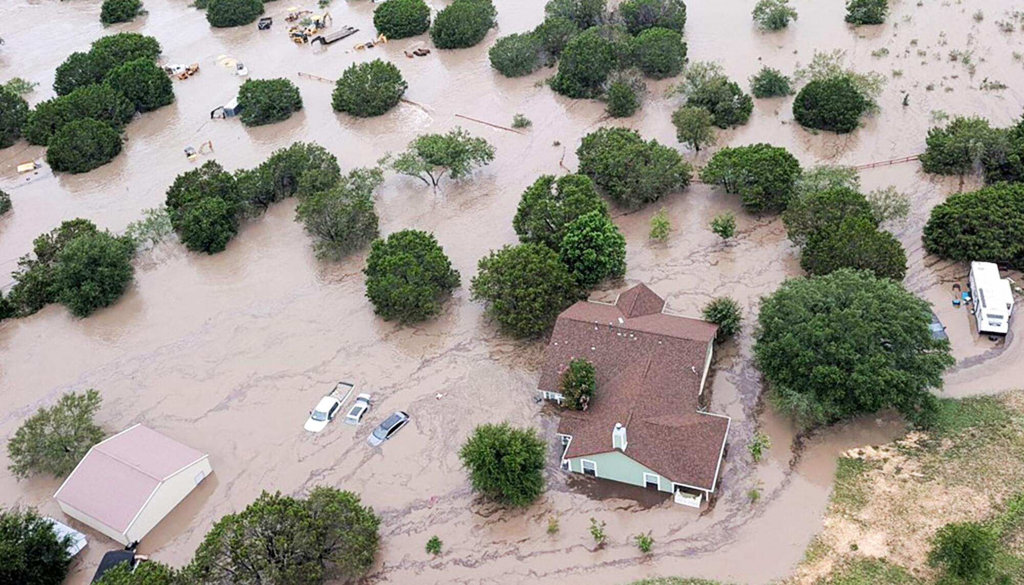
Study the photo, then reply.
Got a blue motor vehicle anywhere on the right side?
No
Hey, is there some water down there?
Yes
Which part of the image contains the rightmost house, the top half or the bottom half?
bottom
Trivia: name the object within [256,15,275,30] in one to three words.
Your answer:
vehicle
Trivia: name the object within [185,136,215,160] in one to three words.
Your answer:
work vehicle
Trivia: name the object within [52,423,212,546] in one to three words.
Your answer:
building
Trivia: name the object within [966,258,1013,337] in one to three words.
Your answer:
vehicle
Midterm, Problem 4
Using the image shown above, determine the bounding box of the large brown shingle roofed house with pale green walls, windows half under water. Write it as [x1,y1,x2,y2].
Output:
[538,282,732,504]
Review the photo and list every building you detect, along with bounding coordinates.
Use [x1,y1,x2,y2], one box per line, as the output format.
[538,282,732,504]
[52,423,212,546]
